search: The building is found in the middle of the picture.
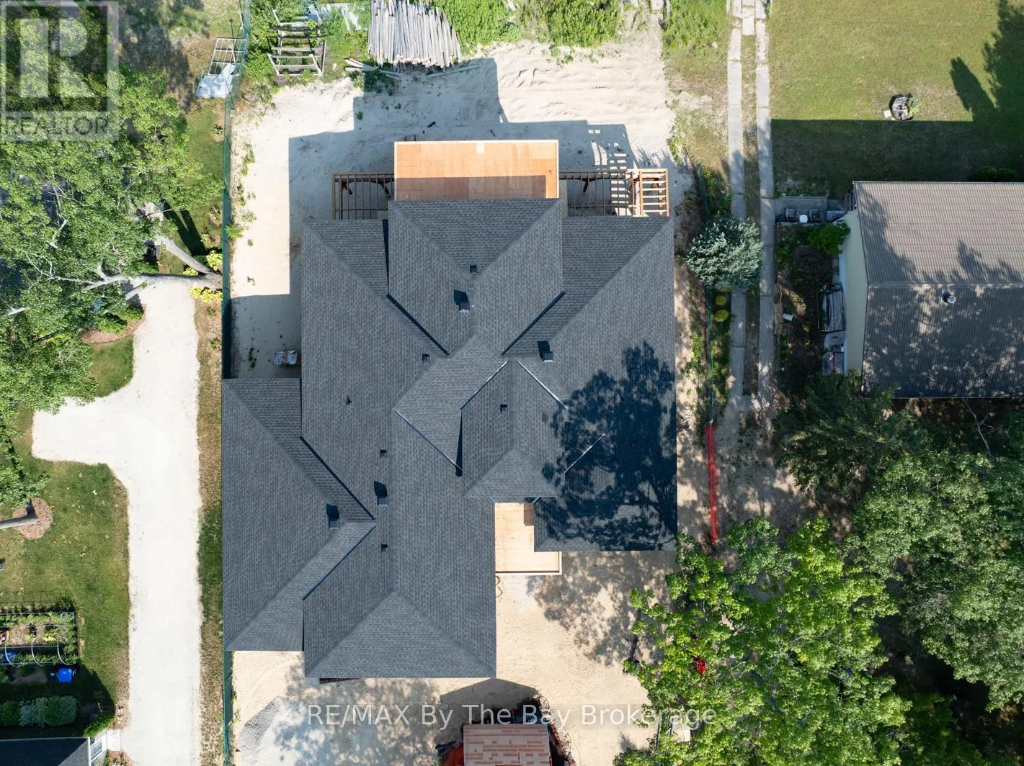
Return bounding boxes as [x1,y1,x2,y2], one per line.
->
[220,140,677,680]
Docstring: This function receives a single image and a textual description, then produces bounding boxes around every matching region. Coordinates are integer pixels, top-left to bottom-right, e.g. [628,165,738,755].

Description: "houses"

[841,179,1024,400]
[0,733,106,766]
[220,140,677,680]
